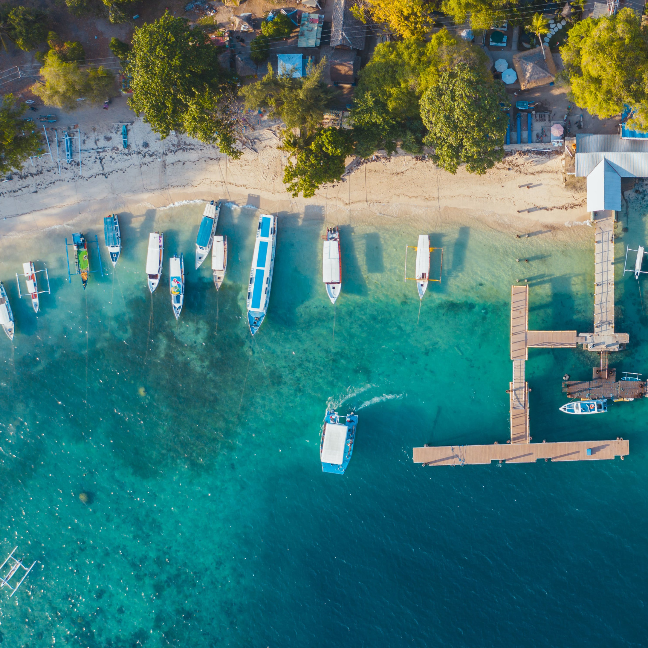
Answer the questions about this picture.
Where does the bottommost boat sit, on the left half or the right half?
left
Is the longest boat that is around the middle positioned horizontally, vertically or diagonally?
vertically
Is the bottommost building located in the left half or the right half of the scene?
right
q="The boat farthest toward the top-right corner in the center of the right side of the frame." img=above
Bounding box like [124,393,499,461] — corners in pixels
[623,246,648,284]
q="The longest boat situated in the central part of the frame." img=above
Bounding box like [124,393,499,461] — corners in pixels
[243,214,280,396]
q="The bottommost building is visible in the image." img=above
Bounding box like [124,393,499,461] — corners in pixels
[575,133,648,224]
